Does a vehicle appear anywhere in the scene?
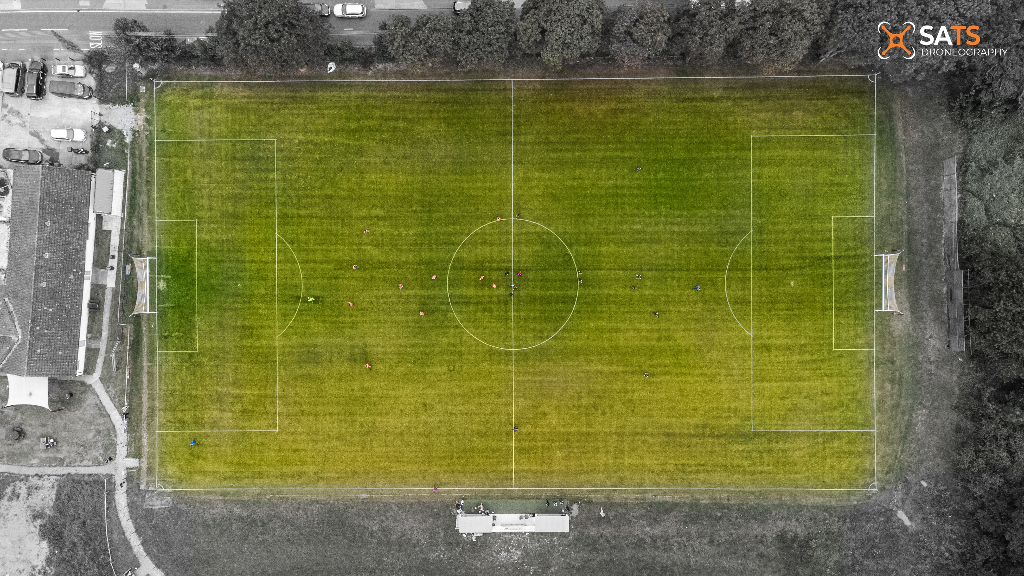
Yes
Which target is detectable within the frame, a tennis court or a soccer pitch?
soccer pitch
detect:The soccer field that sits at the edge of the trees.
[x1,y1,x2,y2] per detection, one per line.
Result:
[154,74,877,499]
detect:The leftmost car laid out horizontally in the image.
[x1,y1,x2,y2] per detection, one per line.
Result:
[4,147,43,164]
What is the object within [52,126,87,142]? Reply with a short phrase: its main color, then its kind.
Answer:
white car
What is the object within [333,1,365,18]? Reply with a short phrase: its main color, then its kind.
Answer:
white car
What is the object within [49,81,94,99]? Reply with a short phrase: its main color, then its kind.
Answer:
gray vehicle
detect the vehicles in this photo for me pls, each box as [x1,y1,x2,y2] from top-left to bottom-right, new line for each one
[67,148,87,153]
[1,60,25,97]
[453,2,471,17]
[303,1,331,18]
[49,81,94,99]
[52,61,87,77]
[4,147,43,164]
[333,1,365,18]
[52,126,87,142]
[25,60,46,99]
